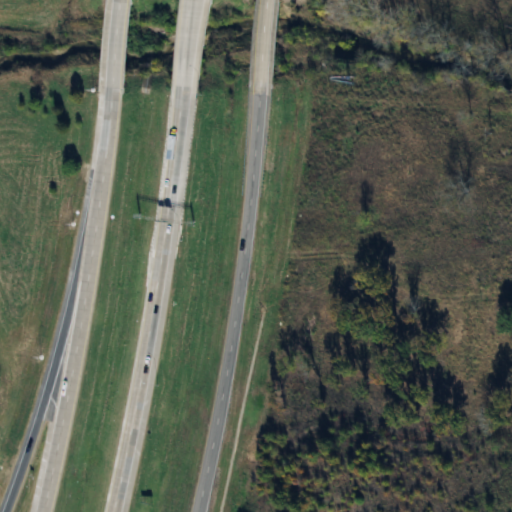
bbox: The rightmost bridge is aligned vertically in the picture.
[246,0,280,100]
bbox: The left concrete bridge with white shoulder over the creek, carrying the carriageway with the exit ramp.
[98,0,132,94]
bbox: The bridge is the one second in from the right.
[170,0,212,94]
